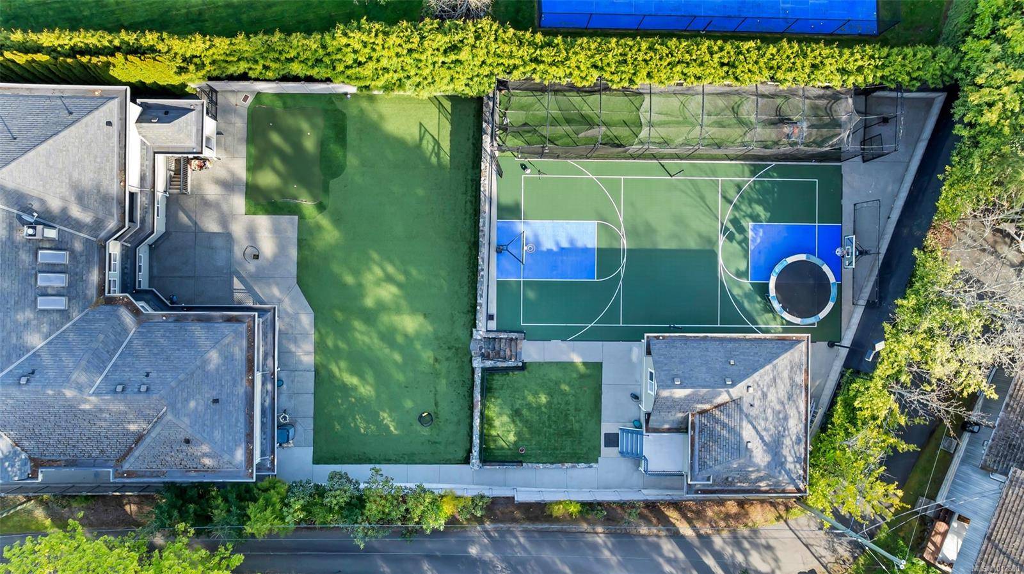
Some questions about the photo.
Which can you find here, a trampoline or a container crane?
trampoline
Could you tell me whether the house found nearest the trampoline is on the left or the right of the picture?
right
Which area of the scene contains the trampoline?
right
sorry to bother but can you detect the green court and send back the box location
[497,160,841,341]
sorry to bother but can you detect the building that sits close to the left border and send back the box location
[0,83,286,482]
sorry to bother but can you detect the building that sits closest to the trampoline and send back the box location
[619,334,810,497]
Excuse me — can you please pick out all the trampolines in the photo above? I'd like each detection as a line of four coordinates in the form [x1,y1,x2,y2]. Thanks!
[765,255,837,325]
